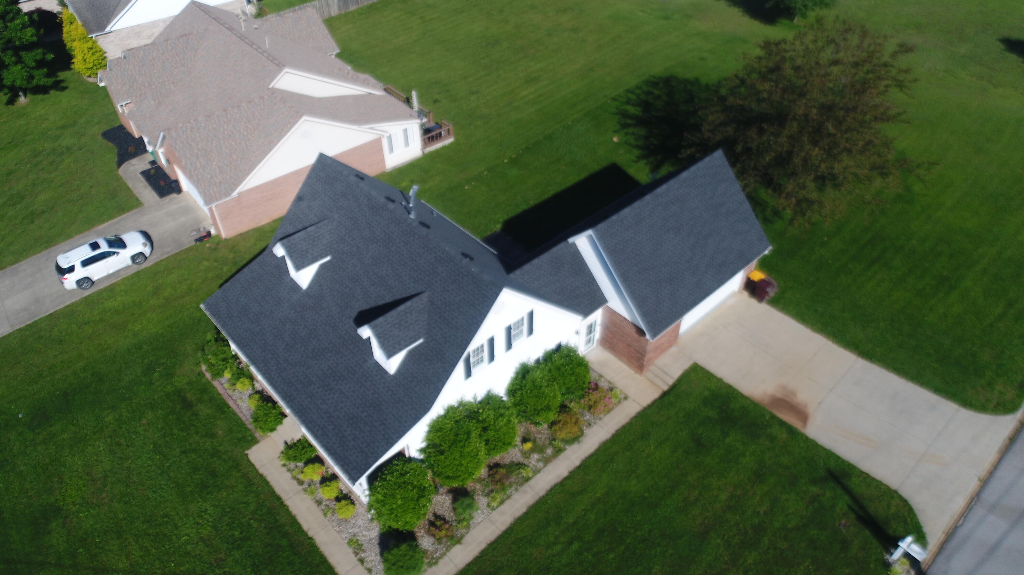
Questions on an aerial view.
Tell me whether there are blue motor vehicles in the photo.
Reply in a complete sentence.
No, no blue motor vehicle can be seen from above.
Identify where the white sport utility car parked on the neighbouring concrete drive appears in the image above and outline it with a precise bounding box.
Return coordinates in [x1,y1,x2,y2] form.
[48,231,153,289]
